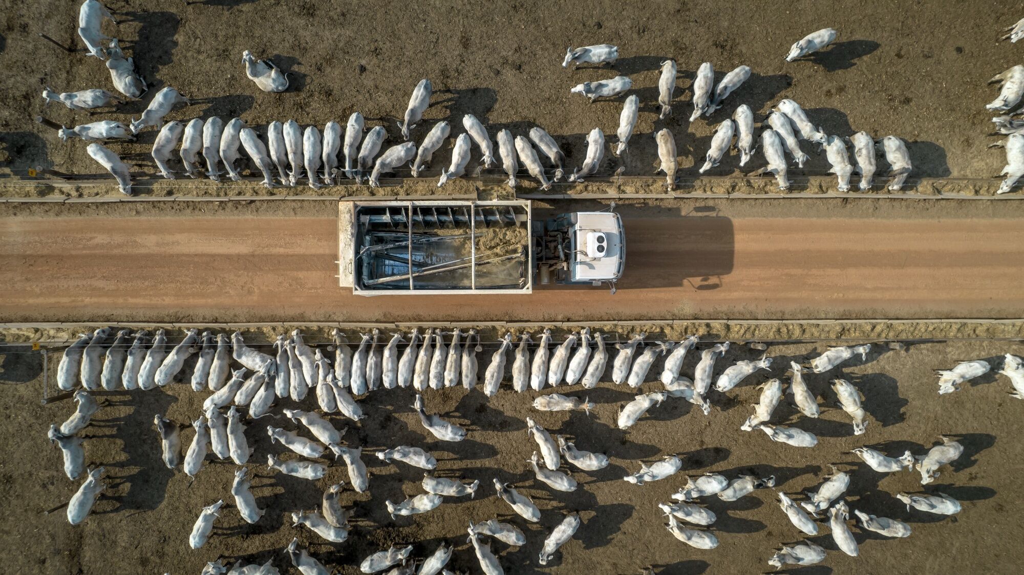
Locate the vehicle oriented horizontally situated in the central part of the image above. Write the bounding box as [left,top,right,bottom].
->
[335,190,626,297]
